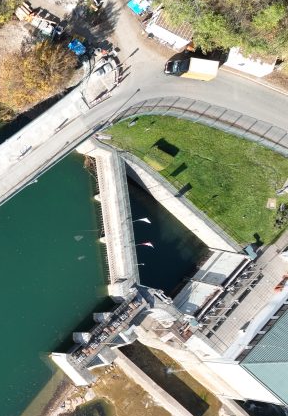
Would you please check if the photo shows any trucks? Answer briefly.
Yes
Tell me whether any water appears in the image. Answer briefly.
Yes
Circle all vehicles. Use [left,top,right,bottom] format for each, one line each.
[16,0,71,40]
[164,53,229,80]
